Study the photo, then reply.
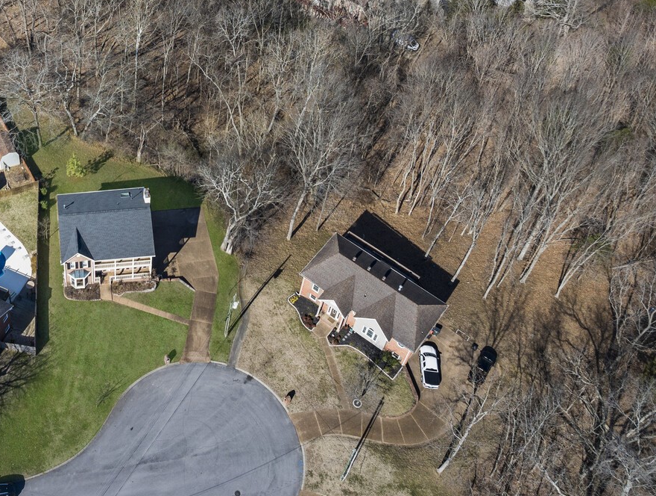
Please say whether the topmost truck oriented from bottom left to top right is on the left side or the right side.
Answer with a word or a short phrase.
right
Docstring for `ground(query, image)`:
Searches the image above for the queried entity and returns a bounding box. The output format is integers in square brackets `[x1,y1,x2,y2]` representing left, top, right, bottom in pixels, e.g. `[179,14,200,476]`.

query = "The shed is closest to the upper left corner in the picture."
[0,128,20,170]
